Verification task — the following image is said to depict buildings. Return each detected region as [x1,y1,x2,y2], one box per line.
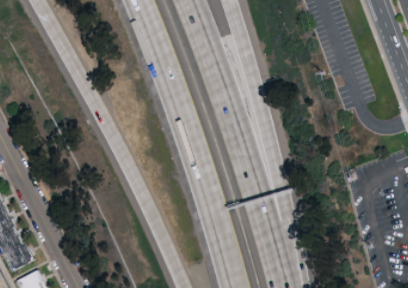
[0,192,35,268]
[16,269,50,288]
